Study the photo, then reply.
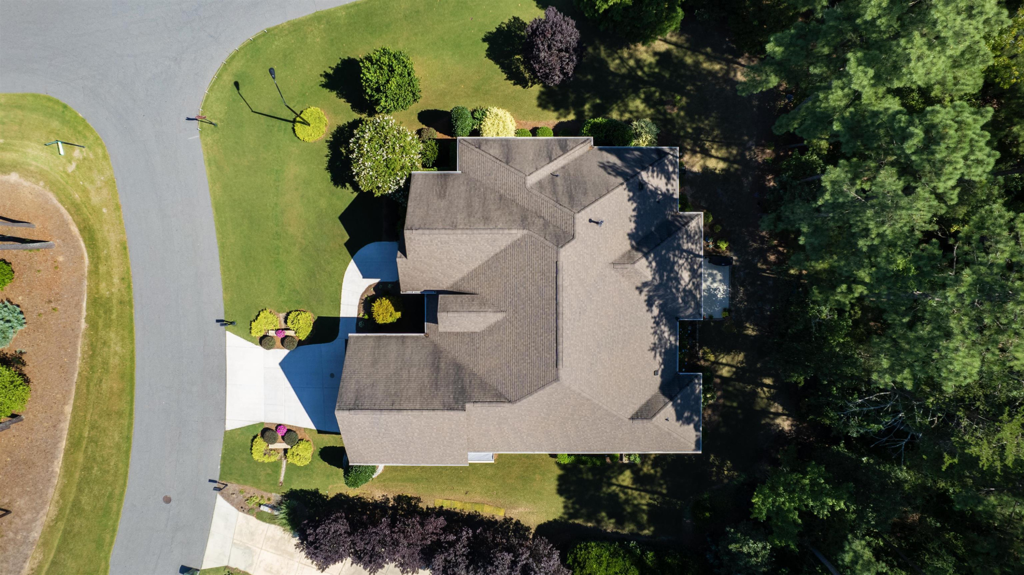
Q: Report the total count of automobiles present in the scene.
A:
zero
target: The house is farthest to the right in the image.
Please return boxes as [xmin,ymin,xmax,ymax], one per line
[335,135,706,468]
